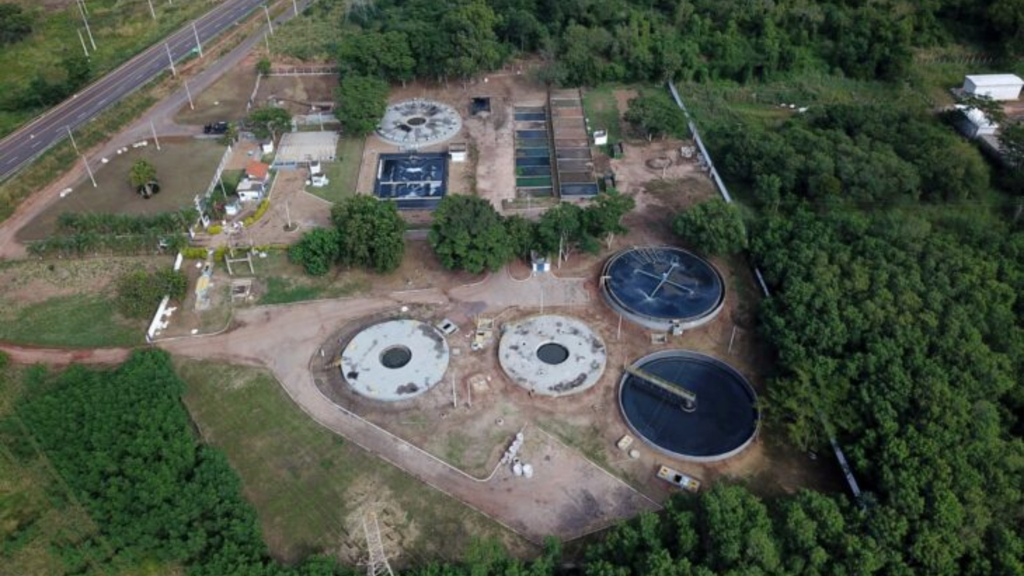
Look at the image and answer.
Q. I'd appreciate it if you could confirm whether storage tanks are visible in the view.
Yes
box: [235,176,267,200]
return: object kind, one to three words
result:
house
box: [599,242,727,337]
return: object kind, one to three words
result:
storage tank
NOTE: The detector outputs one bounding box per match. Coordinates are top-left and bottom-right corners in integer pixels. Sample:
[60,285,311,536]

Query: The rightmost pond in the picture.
[374,153,448,212]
